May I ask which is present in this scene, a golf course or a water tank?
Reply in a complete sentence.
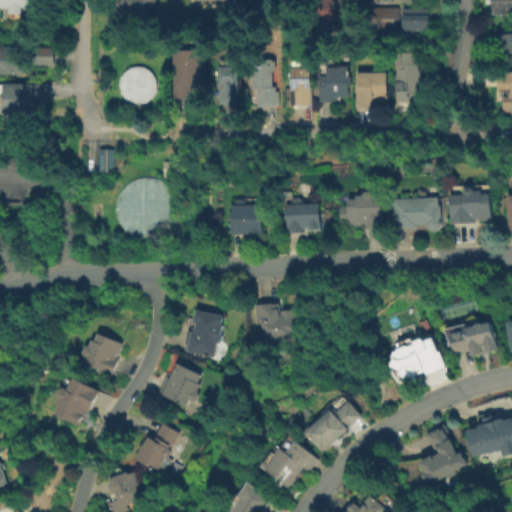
Visible in the photo is a water tank.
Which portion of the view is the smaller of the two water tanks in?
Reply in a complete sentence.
You can find the smaller of the two water tanks in the top left area of the picture.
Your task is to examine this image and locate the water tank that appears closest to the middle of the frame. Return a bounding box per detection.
[118,180,170,234]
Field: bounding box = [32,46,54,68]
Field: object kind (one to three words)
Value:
building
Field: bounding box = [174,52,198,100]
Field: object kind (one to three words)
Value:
house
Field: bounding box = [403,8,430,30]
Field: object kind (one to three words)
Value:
house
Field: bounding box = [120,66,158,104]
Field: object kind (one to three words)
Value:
water tank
